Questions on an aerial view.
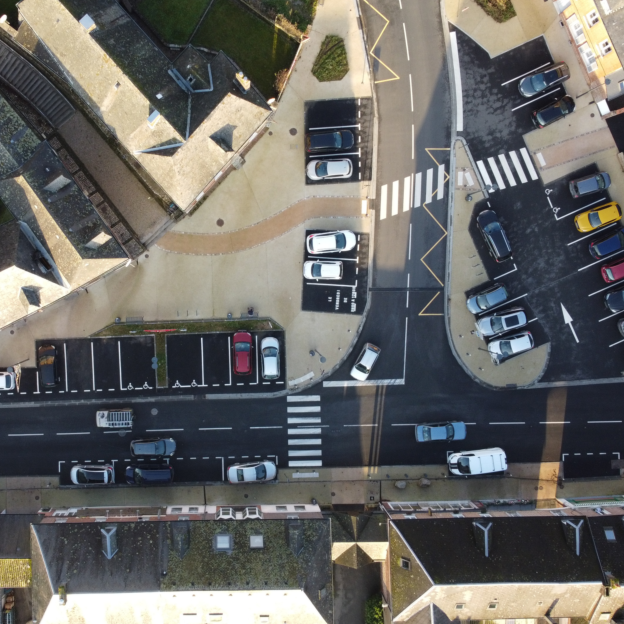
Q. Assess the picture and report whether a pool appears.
No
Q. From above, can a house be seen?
Yes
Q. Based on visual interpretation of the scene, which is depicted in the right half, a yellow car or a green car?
yellow car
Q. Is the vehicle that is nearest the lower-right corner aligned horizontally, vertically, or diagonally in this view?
horizontally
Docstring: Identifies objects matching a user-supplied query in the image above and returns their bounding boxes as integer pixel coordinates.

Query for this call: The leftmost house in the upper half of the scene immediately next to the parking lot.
[16,0,313,215]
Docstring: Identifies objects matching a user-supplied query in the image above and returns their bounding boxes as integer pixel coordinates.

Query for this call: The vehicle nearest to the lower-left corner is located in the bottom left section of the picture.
[71,464,116,487]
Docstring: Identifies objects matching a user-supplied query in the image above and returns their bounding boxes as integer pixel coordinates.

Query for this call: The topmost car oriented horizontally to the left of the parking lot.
[305,128,354,153]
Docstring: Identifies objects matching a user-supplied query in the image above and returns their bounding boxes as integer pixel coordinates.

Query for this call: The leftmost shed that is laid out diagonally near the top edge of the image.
[13,21,71,85]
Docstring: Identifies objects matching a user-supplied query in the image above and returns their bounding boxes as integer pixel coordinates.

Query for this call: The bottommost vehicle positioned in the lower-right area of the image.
[444,448,511,475]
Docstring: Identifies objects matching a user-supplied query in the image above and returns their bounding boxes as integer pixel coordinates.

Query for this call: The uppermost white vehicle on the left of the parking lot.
[306,157,353,181]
